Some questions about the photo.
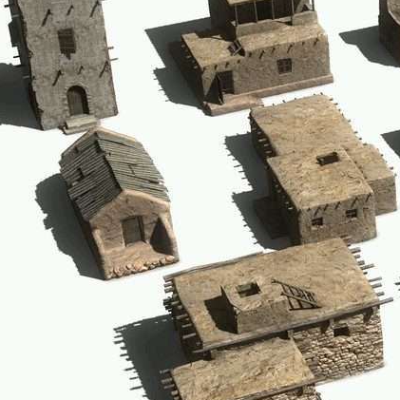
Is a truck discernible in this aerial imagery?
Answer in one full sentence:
No, no truck is visible in the view.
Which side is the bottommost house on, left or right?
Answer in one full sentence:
It is on the right.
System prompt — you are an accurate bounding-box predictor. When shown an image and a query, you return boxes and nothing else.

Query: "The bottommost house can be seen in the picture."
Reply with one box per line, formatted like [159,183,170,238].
[157,237,397,400]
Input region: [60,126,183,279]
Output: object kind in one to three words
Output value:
shed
